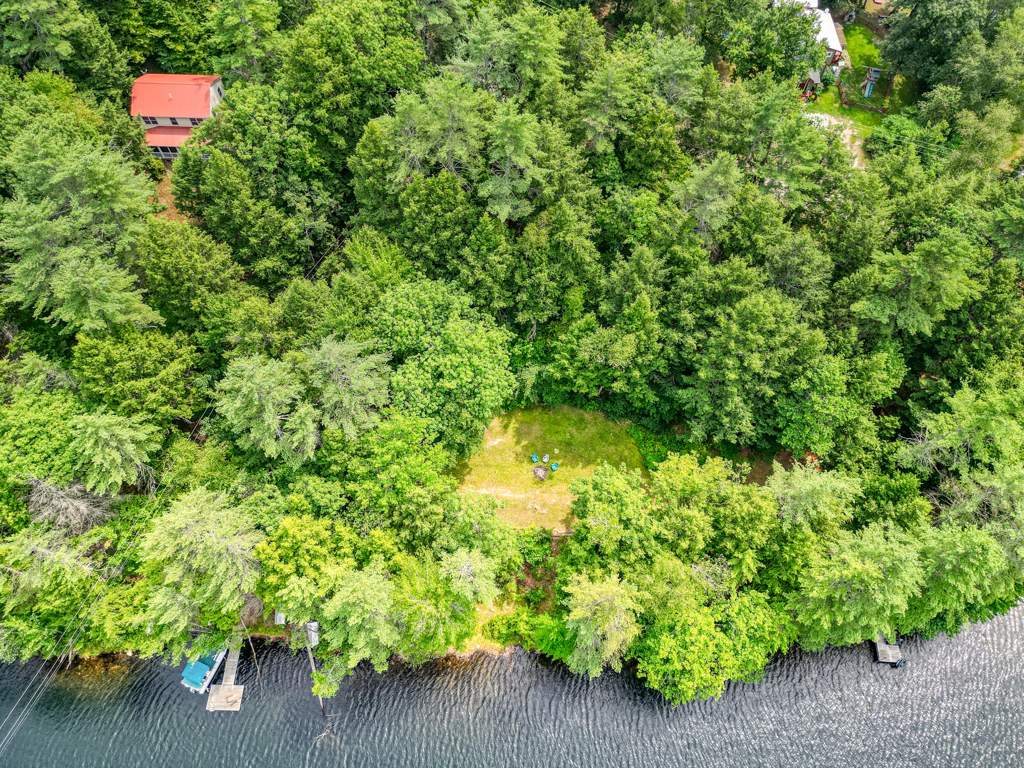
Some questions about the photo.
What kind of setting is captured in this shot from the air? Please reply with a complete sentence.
This image shows a forest.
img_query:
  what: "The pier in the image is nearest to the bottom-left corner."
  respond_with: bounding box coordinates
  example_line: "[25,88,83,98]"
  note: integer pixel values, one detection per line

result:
[204,644,245,712]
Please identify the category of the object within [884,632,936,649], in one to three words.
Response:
boat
